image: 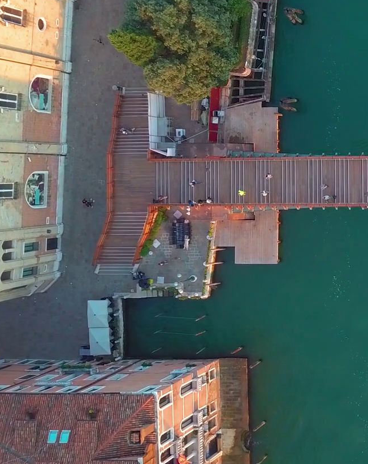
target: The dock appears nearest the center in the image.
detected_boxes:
[217,212,282,263]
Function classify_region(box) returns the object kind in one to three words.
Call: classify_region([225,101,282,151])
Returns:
pier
